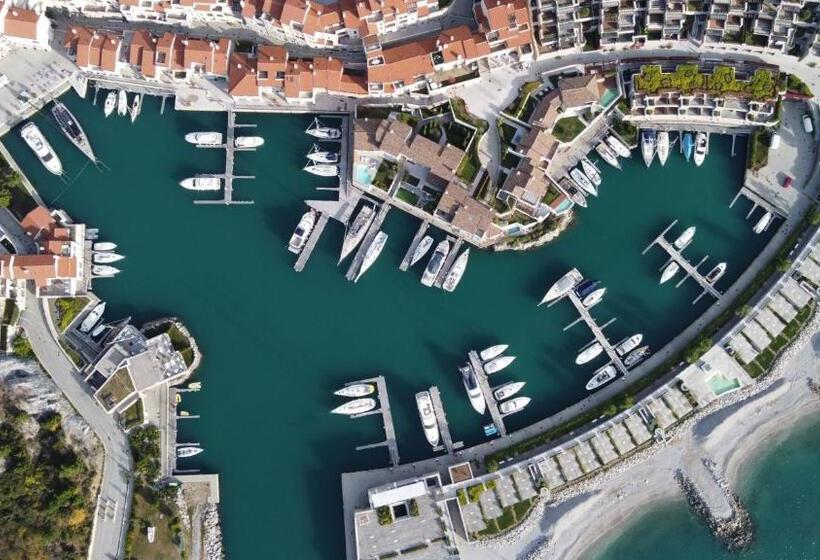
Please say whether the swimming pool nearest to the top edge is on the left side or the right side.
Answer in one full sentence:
The swimming pool nearest to the top edge sits on the right side.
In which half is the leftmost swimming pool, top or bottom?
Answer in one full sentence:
You can find the leftmost swimming pool in the top half.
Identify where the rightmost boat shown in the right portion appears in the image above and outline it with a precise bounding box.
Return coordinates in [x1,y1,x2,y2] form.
[752,213,771,236]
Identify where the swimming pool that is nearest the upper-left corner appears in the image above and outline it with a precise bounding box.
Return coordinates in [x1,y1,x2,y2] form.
[353,151,384,187]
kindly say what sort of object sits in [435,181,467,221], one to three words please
house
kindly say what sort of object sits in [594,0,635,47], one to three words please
building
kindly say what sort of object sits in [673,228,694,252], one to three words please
boat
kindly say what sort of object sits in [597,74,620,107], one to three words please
swimming pool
